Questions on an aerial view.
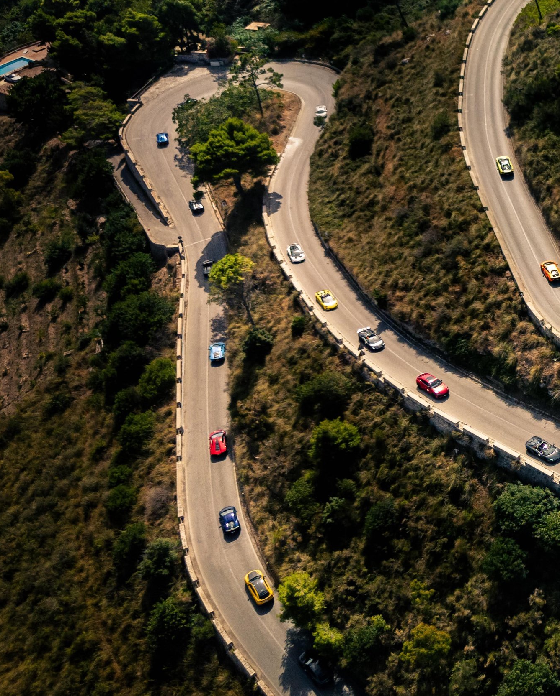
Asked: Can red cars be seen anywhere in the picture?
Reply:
Yes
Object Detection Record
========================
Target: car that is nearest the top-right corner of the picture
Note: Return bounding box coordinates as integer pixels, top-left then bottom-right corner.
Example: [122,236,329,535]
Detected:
[496,158,514,177]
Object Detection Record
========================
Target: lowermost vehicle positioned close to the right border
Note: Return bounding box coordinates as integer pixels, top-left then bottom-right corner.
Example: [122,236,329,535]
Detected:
[523,436,560,464]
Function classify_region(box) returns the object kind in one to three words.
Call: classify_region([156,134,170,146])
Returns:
vehicle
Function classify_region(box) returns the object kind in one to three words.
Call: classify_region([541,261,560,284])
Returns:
car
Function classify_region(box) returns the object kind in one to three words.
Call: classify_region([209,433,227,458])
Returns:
car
